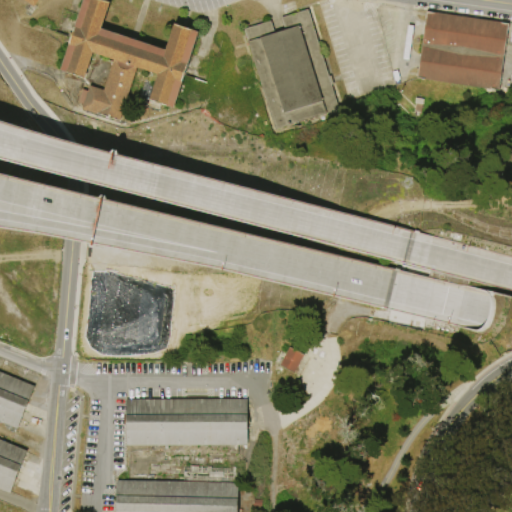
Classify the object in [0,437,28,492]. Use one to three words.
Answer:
building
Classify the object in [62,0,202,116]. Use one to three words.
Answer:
building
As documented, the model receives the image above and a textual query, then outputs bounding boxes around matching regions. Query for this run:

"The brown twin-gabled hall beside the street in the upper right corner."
[419,10,510,88]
